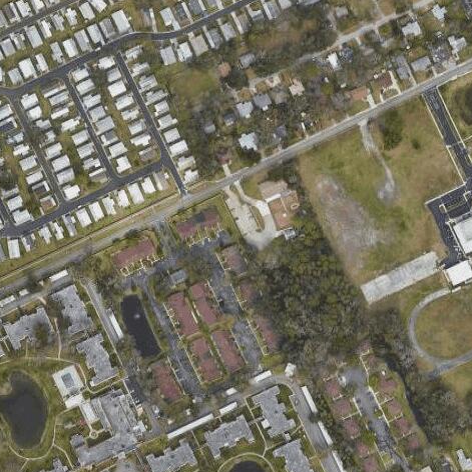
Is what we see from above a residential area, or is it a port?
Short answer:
residential area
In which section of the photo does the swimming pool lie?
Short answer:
bottom left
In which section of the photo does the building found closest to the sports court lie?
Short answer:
right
